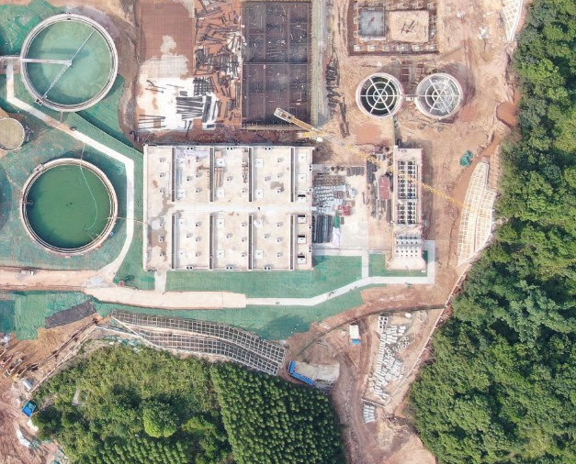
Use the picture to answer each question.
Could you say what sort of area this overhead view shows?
industrial area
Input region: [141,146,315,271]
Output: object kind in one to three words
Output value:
building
